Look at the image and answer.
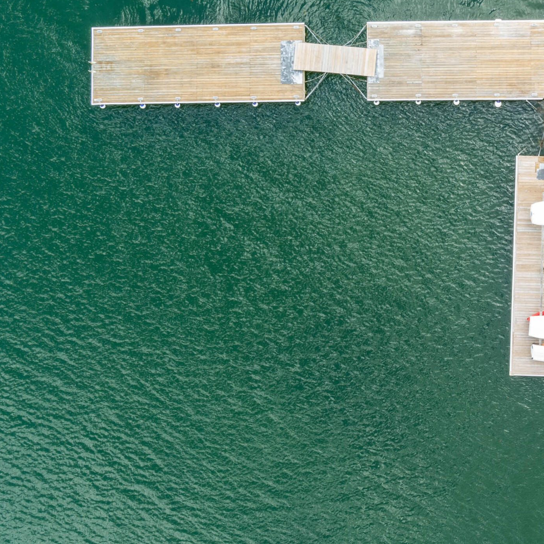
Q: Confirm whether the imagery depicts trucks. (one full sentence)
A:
No, no truck is visible in the scene.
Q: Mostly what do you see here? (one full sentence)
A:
What you mostly see from above here is water.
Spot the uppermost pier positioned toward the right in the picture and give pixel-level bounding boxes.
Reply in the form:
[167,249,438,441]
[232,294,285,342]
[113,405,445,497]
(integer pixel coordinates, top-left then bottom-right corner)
[366,19,544,102]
